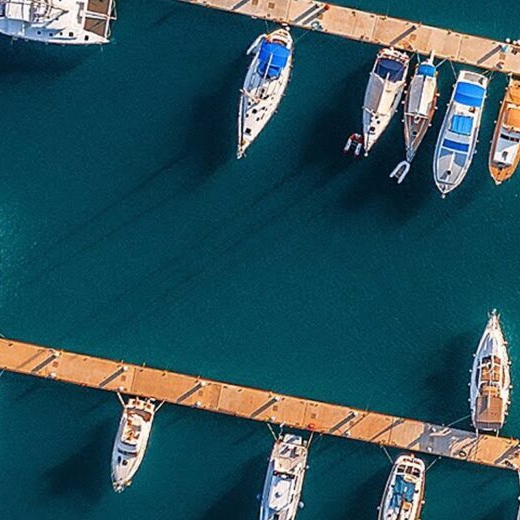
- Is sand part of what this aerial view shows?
No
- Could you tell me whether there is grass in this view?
No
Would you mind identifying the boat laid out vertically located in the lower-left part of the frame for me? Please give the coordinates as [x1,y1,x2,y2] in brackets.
[110,393,163,496]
